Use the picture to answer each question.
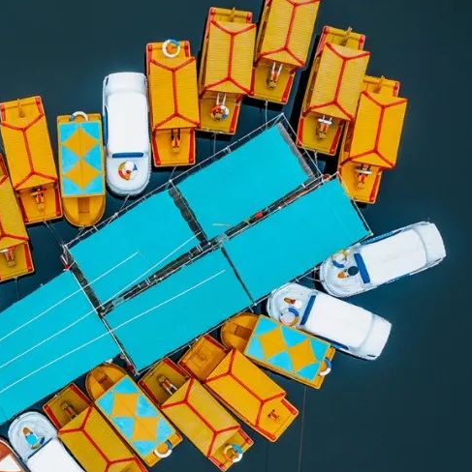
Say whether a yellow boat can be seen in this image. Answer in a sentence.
Yes, a yellow boat can be made out from above.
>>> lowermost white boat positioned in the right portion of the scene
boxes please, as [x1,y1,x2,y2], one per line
[266,282,390,360]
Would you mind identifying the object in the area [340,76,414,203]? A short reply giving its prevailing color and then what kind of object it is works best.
orange boat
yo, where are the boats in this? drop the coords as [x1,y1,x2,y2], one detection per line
[196,5,258,153]
[207,316,335,390]
[11,409,90,472]
[179,334,297,440]
[0,153,33,300]
[305,220,446,294]
[140,358,253,472]
[297,26,374,167]
[340,76,414,203]
[87,365,183,468]
[59,114,107,245]
[0,95,62,242]
[146,40,202,188]
[266,282,390,360]
[101,72,152,208]
[44,385,148,472]
[248,0,319,122]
